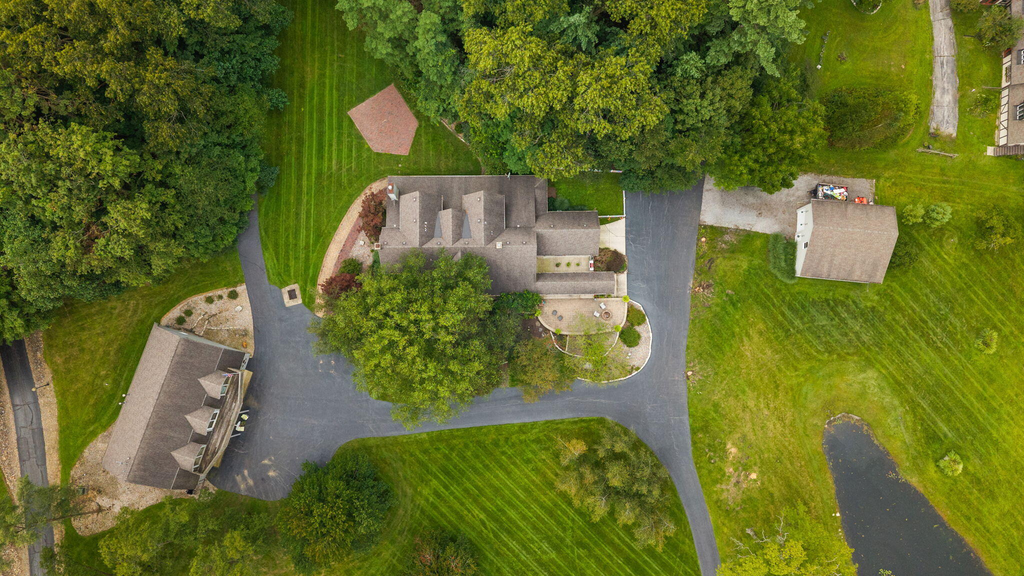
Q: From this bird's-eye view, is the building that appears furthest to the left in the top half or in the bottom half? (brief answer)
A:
bottom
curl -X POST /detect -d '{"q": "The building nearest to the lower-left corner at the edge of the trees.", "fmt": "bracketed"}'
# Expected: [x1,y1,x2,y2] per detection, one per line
[104,323,254,489]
